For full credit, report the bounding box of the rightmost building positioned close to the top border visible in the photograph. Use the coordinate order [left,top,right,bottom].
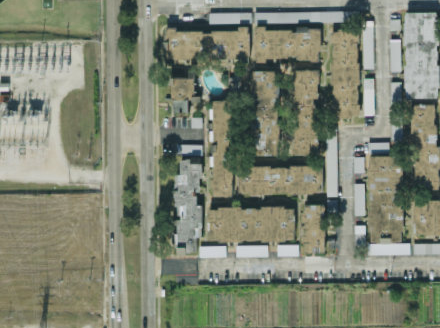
[404,12,439,100]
